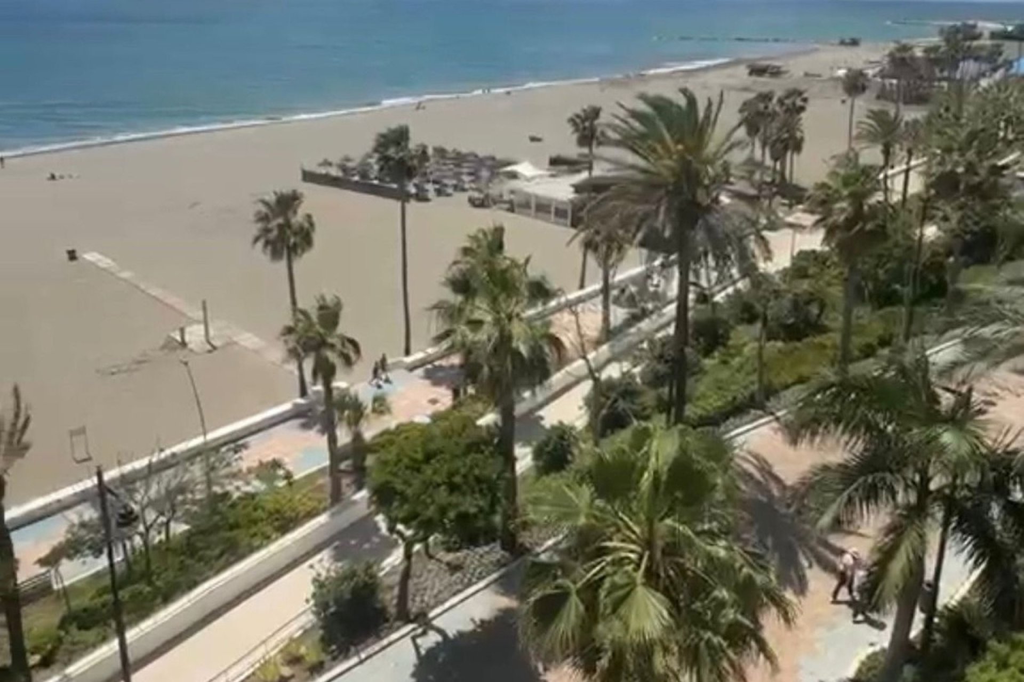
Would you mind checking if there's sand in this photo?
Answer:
Yes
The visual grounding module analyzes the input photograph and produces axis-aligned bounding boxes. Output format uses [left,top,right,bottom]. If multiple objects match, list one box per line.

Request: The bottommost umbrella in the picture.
[779,211,816,246]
